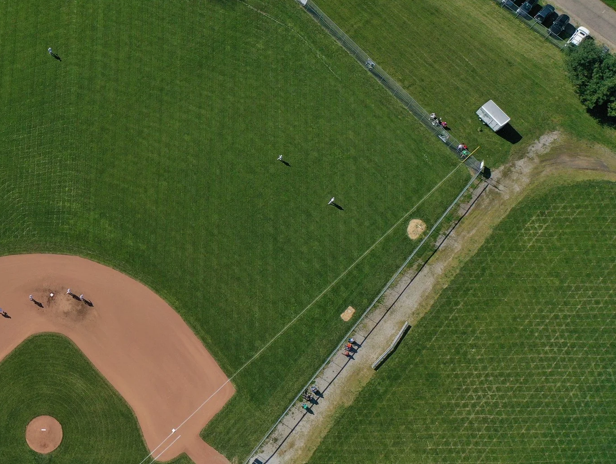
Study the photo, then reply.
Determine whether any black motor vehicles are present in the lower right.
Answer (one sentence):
No, there's no black motor vehicle to be seen in the lower right.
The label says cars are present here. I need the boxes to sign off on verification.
[533,0,558,24]
[502,0,516,7]
[518,0,540,18]
[548,10,572,35]
[564,24,589,48]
